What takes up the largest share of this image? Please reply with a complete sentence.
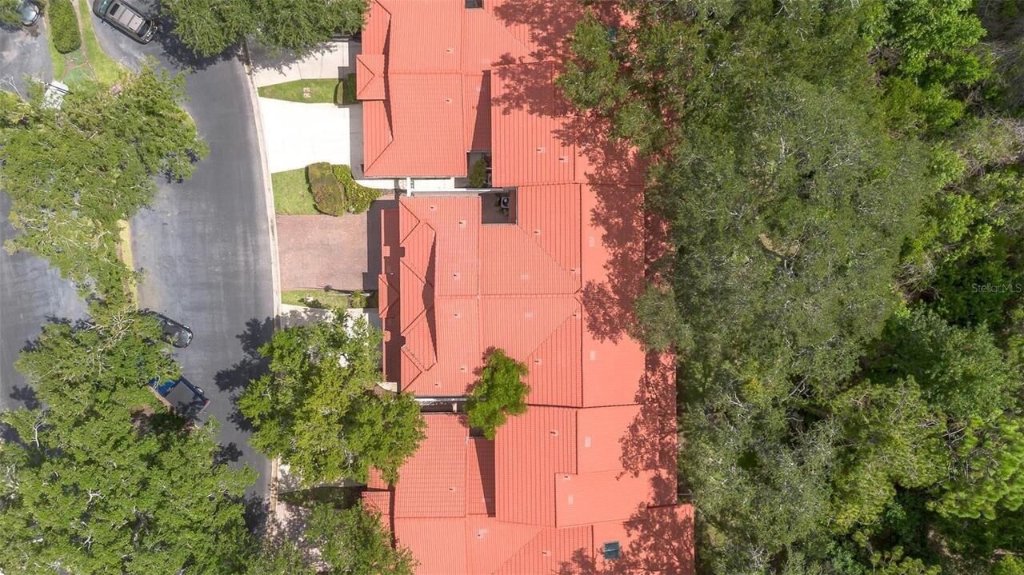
The scene is dominated by trees.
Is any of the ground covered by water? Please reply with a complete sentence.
No, the picture contains no water.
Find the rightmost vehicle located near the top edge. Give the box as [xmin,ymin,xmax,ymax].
[86,0,165,48]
